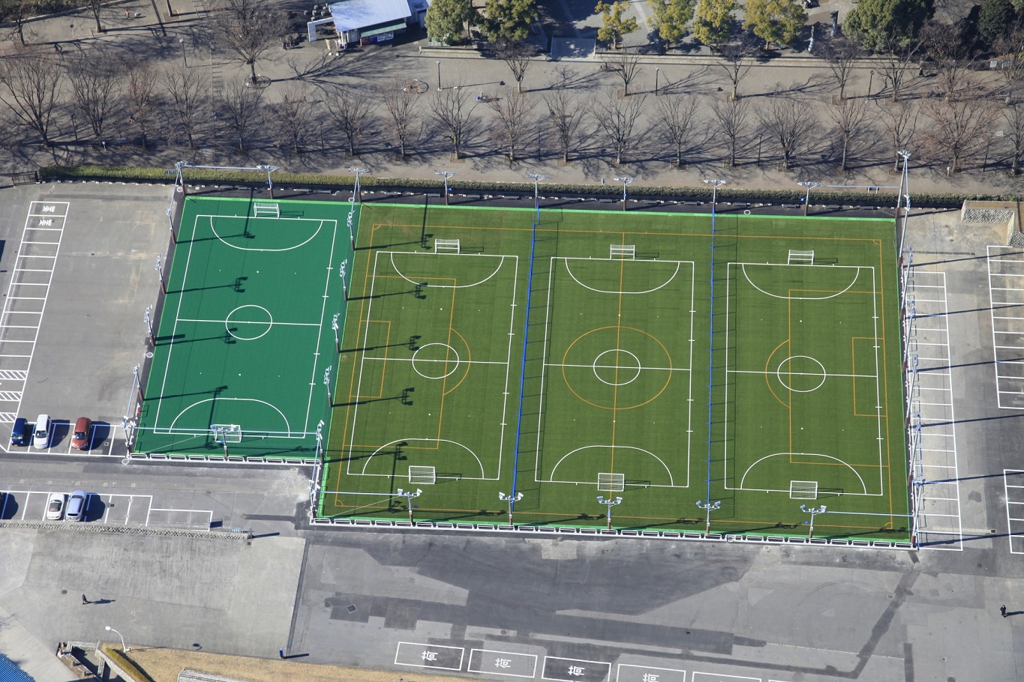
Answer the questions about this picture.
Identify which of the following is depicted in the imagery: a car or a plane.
car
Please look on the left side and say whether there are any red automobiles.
Yes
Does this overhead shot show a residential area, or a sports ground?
sports ground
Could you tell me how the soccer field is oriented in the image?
from side to side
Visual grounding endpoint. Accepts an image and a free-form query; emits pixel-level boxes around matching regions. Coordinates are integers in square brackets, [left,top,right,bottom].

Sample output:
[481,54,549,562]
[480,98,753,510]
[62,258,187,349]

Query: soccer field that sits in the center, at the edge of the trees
[333,224,891,528]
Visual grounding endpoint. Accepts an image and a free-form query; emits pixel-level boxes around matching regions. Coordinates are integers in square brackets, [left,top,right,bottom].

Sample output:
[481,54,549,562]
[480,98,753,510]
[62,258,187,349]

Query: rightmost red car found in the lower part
[69,419,89,450]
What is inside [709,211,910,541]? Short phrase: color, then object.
green sports court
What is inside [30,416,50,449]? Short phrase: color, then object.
white car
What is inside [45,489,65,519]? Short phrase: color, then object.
white car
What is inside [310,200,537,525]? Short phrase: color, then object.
green sports court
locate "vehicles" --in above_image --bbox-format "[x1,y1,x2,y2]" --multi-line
[69,419,89,450]
[66,486,87,518]
[11,417,30,445]
[45,489,65,519]
[30,416,50,449]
